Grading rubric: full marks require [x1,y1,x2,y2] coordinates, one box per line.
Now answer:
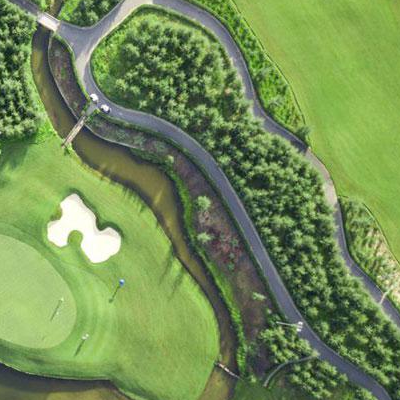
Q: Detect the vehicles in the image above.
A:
[88,95,97,105]
[98,105,108,114]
